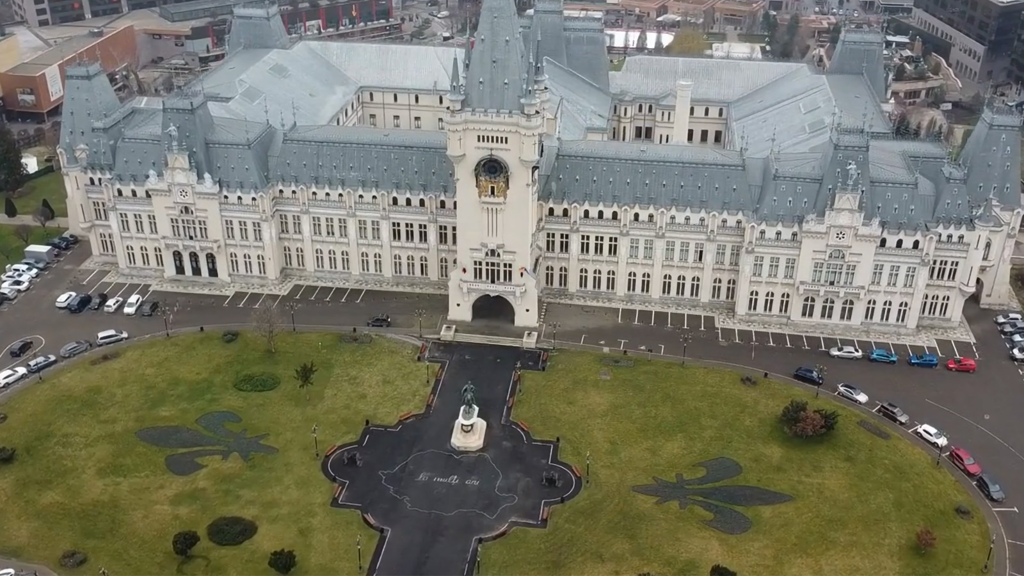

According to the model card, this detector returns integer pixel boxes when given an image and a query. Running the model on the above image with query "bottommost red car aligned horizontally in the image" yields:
[947,360,978,375]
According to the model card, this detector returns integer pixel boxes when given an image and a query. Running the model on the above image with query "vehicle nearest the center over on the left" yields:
[364,314,394,328]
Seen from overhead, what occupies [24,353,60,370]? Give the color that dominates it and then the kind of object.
gray car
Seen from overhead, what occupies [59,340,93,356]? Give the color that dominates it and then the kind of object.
gray car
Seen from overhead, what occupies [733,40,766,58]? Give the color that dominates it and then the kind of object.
white tent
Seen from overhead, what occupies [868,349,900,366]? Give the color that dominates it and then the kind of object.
blue car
